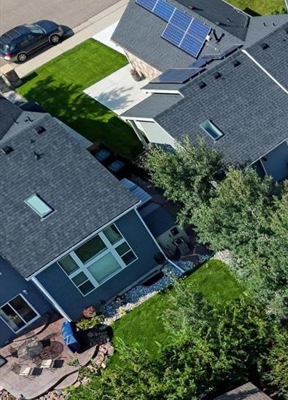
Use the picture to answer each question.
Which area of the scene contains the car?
top left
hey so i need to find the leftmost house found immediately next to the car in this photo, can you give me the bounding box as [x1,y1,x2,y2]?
[0,93,190,349]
